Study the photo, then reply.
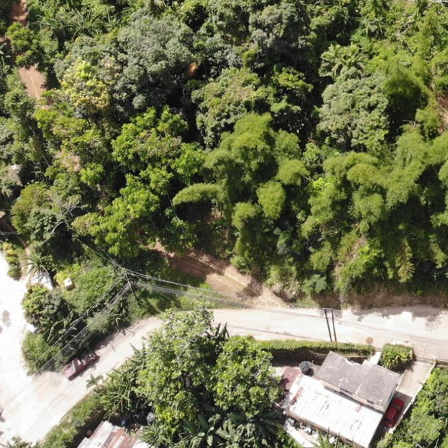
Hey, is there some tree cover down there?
Yes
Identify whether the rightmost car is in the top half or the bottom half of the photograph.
bottom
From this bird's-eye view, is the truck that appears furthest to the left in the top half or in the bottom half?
bottom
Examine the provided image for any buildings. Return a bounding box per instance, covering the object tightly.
[287,351,400,448]
[83,421,154,448]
